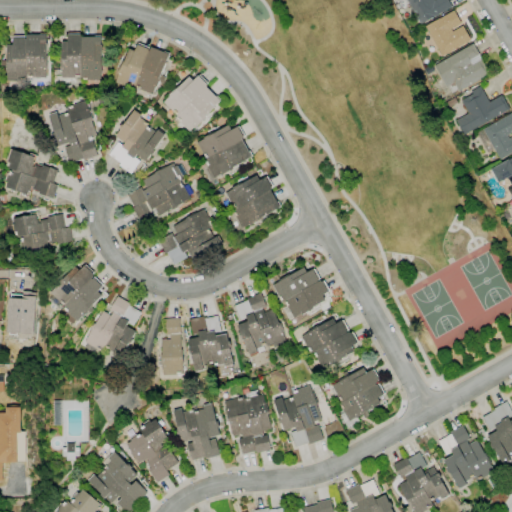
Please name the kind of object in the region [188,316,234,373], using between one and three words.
house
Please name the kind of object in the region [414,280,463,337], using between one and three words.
basketball court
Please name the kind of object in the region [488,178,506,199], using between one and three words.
swimming pool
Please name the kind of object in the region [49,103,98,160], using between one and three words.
house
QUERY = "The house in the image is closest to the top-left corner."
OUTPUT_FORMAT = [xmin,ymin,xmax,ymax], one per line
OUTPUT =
[6,33,46,80]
